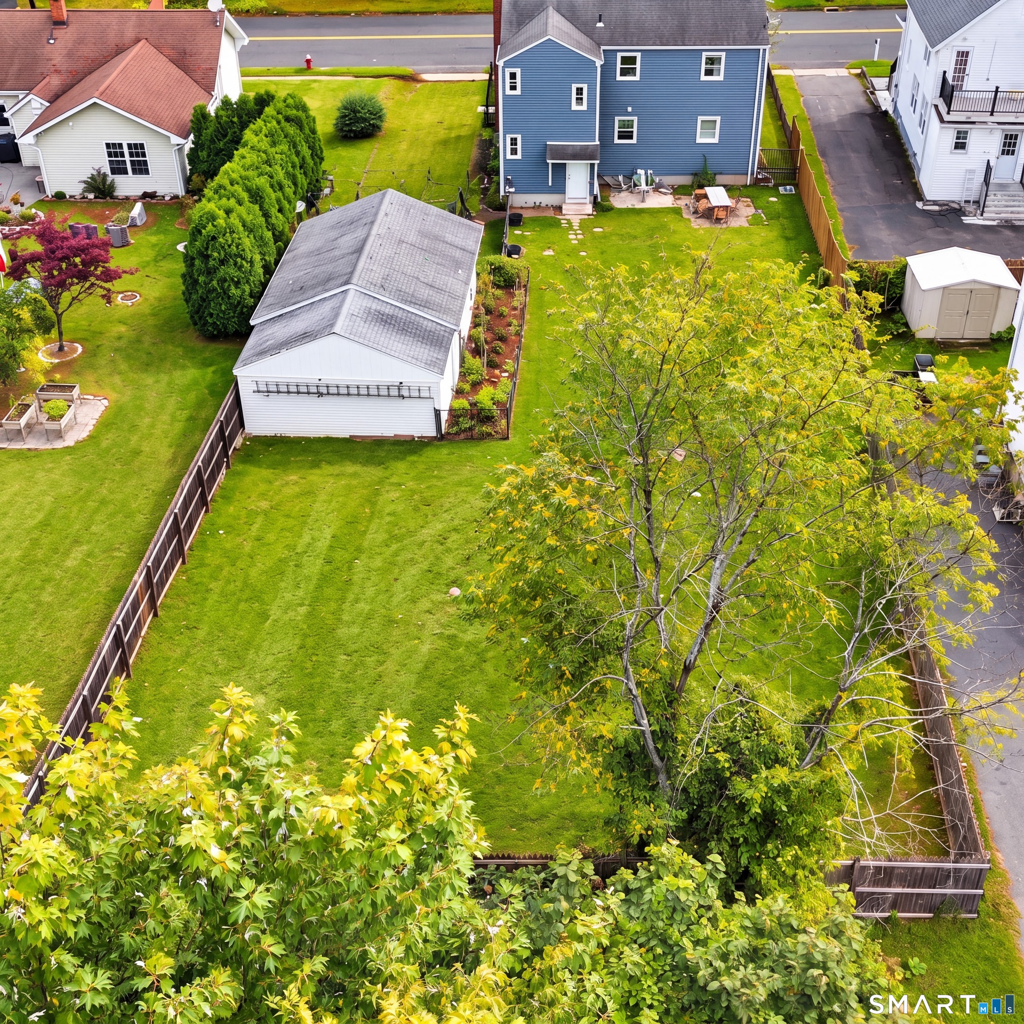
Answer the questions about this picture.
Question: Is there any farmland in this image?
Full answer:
No, farmland can't be seen anywhere here.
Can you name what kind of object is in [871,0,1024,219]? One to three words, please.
house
